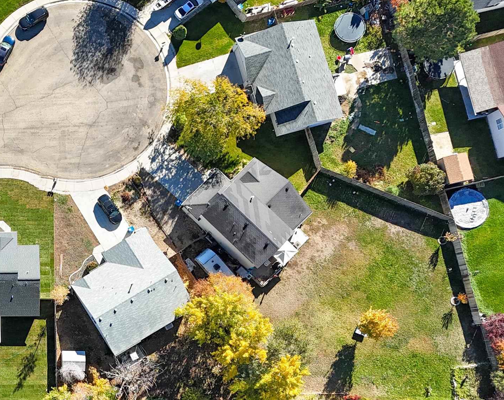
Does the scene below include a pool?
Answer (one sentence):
Yes, there's a pool down there.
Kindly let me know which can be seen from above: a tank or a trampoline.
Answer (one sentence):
There is a trampoline in the scene.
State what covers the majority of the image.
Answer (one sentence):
The bulk of the photo consists of paved ground.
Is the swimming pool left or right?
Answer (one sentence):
The swimming pool appears in the right half of the scene.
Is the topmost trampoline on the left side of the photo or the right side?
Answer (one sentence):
The topmost trampoline appears in the right half of the scene.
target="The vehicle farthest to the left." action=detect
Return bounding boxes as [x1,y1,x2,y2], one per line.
[0,35,16,67]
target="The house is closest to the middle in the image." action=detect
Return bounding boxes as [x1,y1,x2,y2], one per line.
[179,157,310,266]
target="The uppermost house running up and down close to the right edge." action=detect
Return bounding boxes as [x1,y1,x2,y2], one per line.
[452,44,504,168]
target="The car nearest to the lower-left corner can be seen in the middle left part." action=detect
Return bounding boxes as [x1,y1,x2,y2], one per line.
[96,192,124,226]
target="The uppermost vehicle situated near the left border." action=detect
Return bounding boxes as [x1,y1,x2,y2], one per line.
[17,4,51,32]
